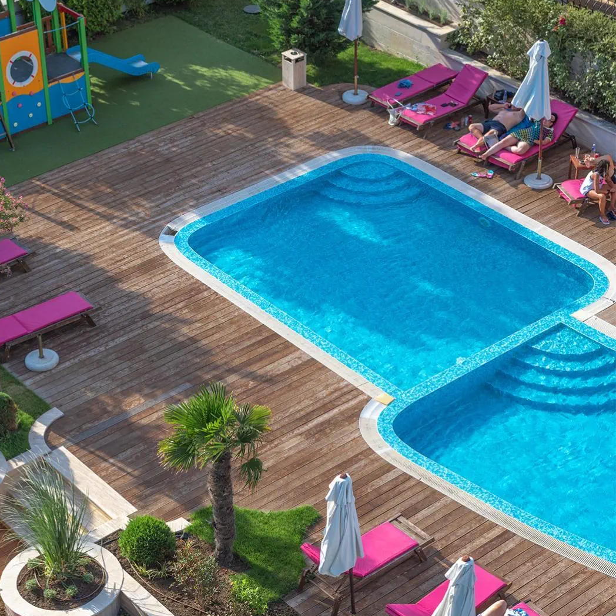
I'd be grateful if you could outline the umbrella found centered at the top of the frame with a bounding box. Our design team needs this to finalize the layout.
[339,0,368,102]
